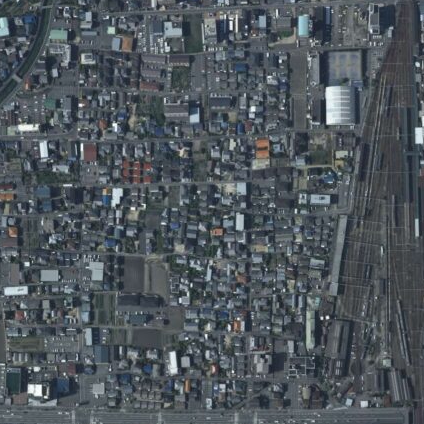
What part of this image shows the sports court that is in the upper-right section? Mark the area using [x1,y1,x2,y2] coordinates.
[327,50,362,83]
